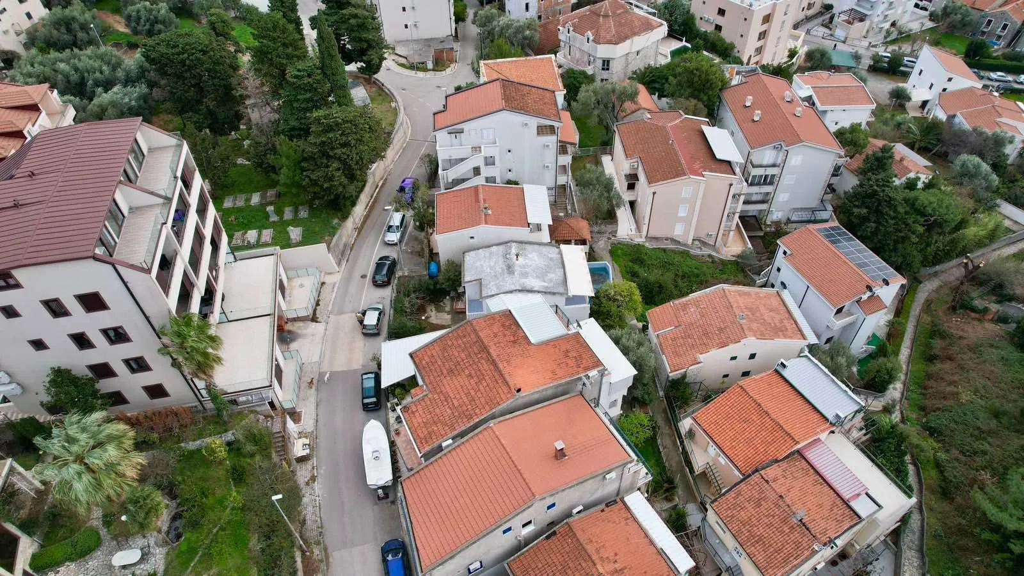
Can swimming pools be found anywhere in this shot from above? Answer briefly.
Yes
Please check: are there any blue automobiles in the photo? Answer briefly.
Yes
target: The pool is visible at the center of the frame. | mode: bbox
[587,261,613,288]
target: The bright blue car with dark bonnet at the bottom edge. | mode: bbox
[377,532,408,576]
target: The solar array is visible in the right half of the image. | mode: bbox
[817,225,900,281]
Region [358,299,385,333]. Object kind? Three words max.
car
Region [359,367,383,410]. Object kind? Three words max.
car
